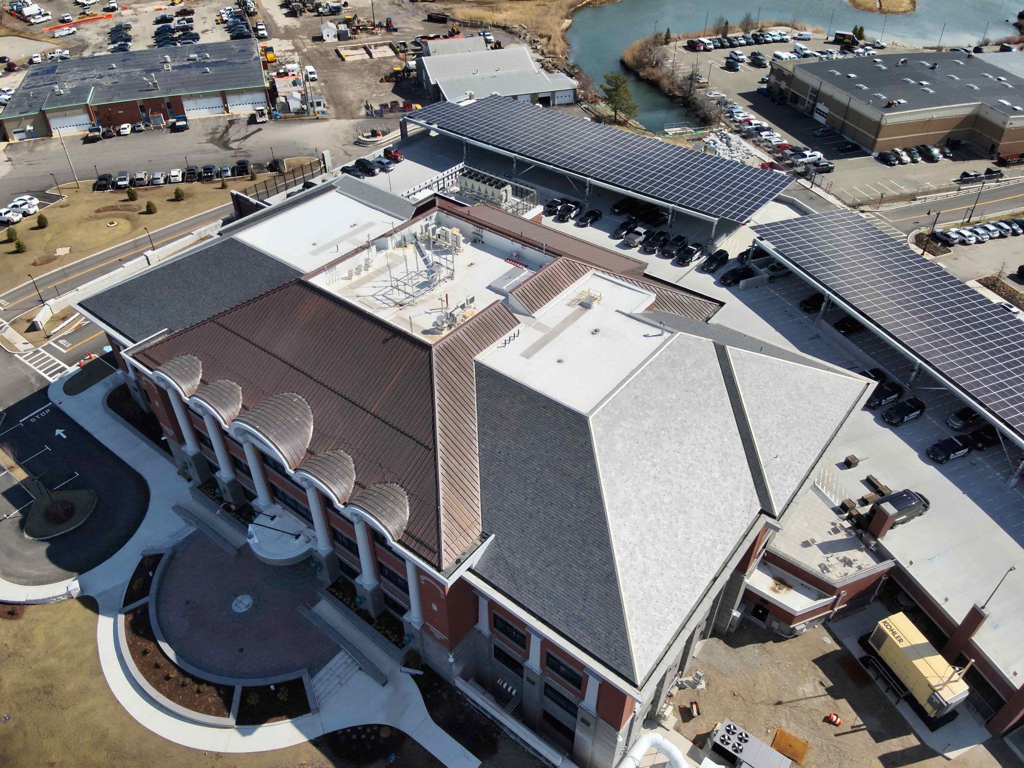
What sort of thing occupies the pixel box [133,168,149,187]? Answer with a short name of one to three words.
car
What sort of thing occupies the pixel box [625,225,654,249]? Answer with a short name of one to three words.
truck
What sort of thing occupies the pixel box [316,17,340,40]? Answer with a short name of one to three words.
shed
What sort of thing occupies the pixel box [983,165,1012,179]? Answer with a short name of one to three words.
vehicle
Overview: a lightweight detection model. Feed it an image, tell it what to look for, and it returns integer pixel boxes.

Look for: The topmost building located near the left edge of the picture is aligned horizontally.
[0,39,269,144]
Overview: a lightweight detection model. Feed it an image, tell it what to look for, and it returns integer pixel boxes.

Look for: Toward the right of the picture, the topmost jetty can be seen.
[664,119,697,138]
